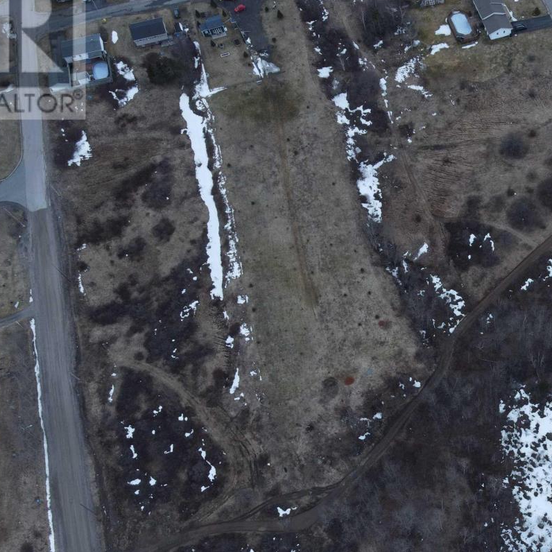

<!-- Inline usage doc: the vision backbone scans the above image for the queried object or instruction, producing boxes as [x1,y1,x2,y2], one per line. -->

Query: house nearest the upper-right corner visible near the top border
[475,0,513,43]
